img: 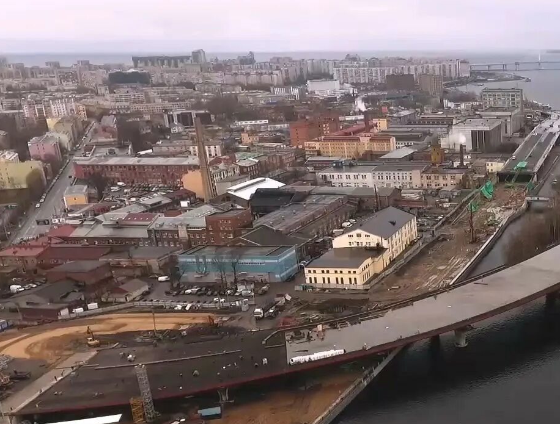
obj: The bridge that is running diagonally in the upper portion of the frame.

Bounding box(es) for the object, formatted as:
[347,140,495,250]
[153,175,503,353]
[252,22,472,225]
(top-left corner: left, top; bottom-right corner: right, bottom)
[497,111,560,182]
